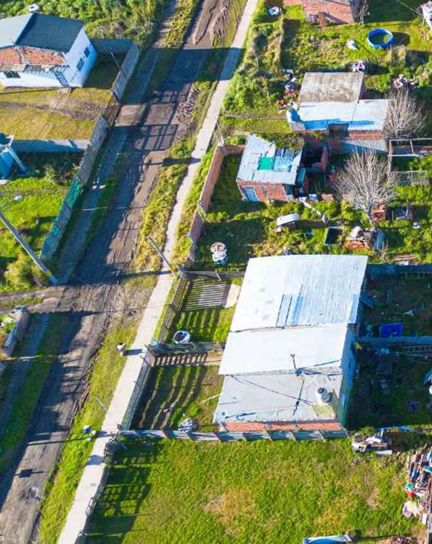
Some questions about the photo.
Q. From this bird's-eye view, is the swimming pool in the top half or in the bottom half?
top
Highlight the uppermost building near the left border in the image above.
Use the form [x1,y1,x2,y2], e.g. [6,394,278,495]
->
[0,13,101,88]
